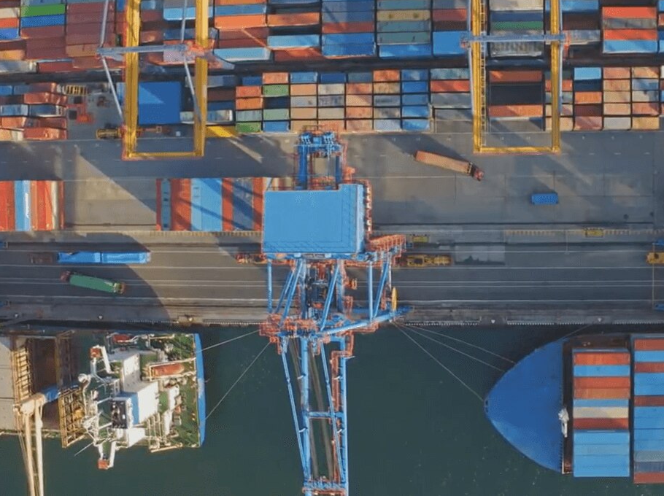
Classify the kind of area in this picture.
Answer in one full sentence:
It's a port.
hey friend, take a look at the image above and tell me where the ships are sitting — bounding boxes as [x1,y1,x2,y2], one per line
[0,329,209,465]
[484,328,664,477]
